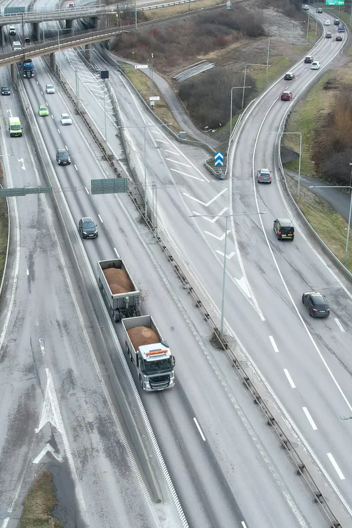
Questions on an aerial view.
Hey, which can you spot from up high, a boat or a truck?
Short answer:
truck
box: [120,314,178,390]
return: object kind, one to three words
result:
truck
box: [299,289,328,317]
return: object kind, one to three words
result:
car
